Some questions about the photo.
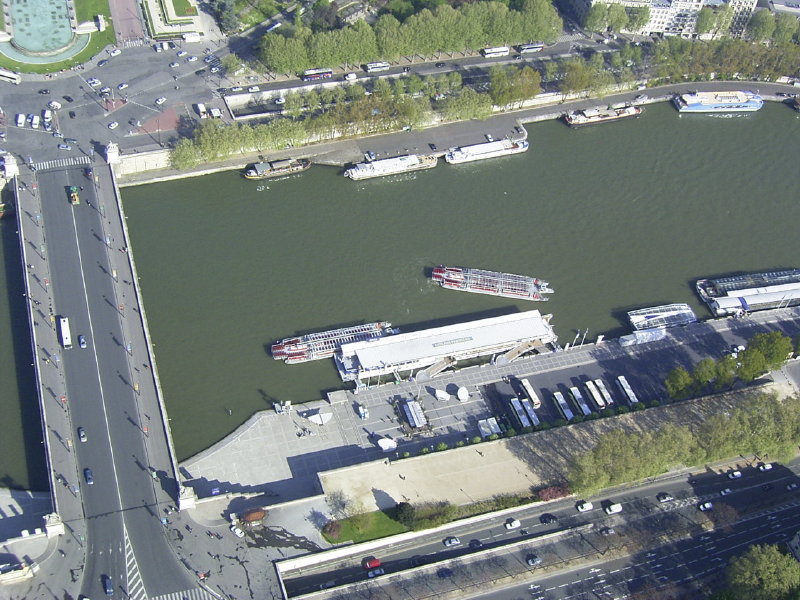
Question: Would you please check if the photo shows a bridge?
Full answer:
Yes, there's a bridge here.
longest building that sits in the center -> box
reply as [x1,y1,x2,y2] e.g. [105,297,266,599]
[341,311,560,382]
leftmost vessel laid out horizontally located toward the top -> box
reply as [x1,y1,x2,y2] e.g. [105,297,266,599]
[241,159,323,180]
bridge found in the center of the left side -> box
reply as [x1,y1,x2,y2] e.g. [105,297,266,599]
[12,163,177,523]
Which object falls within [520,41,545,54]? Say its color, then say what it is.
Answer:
white vehicle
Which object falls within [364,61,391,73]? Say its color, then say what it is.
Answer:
white vehicle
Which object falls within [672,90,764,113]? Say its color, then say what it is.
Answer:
white vessel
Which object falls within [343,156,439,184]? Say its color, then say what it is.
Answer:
white boat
